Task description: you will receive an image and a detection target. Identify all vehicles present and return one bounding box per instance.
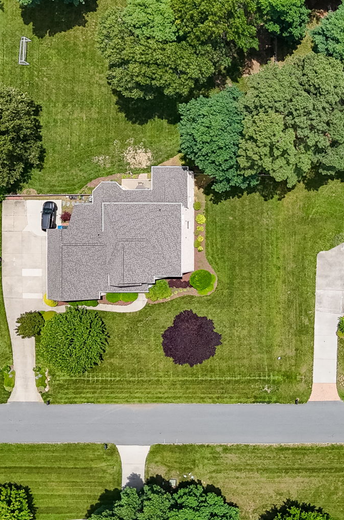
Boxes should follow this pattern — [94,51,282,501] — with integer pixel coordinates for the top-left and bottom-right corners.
[37,198,55,231]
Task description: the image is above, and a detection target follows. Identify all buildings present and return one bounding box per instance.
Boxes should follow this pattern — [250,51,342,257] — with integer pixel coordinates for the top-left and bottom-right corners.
[47,166,193,299]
